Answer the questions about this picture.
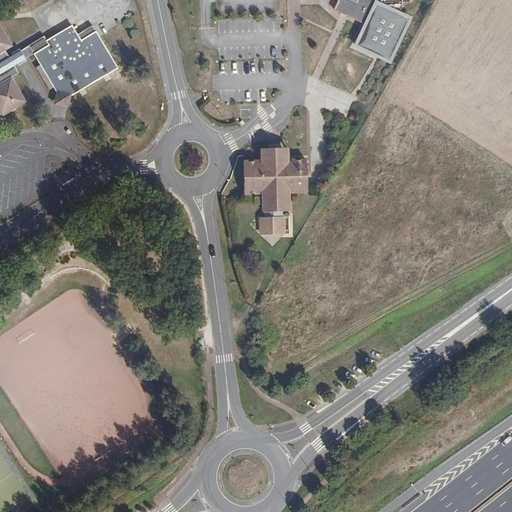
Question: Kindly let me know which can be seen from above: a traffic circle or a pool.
traffic circle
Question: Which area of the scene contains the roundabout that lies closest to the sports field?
bottom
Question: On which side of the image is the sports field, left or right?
left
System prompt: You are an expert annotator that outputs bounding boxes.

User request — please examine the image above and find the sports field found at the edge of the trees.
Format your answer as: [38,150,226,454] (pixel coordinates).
[0,289,151,487]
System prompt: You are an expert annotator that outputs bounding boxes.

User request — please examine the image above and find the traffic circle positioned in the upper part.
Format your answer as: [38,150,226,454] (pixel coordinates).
[154,121,230,198]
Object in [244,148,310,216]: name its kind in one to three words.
house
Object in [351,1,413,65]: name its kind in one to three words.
building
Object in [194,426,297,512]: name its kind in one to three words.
roundabout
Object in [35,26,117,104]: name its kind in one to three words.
building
